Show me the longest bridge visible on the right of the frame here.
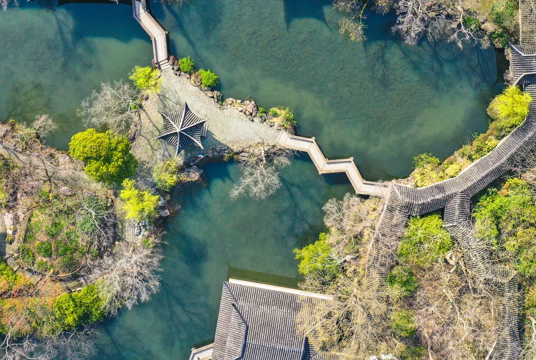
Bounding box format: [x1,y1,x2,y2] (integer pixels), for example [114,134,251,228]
[280,129,393,199]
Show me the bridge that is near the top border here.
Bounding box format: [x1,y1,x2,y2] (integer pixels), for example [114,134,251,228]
[129,0,172,68]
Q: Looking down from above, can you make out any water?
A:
Yes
